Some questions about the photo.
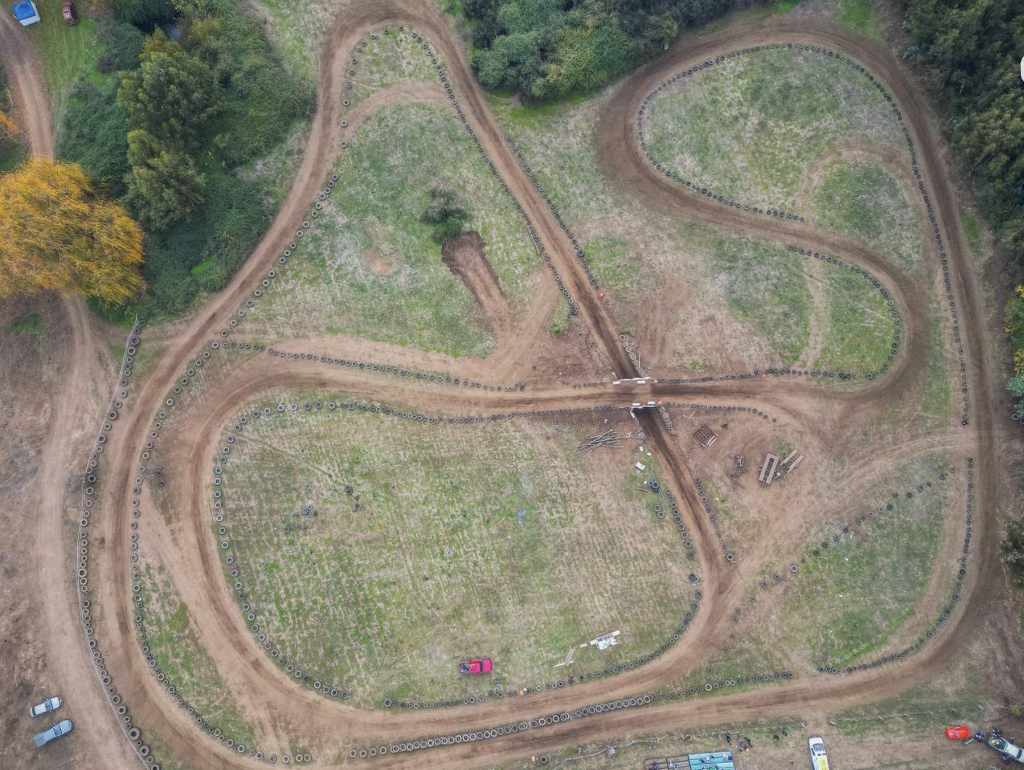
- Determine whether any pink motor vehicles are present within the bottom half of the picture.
Yes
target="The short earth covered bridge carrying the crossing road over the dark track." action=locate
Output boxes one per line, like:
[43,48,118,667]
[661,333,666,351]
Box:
[612,377,667,407]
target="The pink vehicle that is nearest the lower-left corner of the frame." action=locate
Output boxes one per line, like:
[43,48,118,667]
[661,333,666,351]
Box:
[458,656,494,675]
